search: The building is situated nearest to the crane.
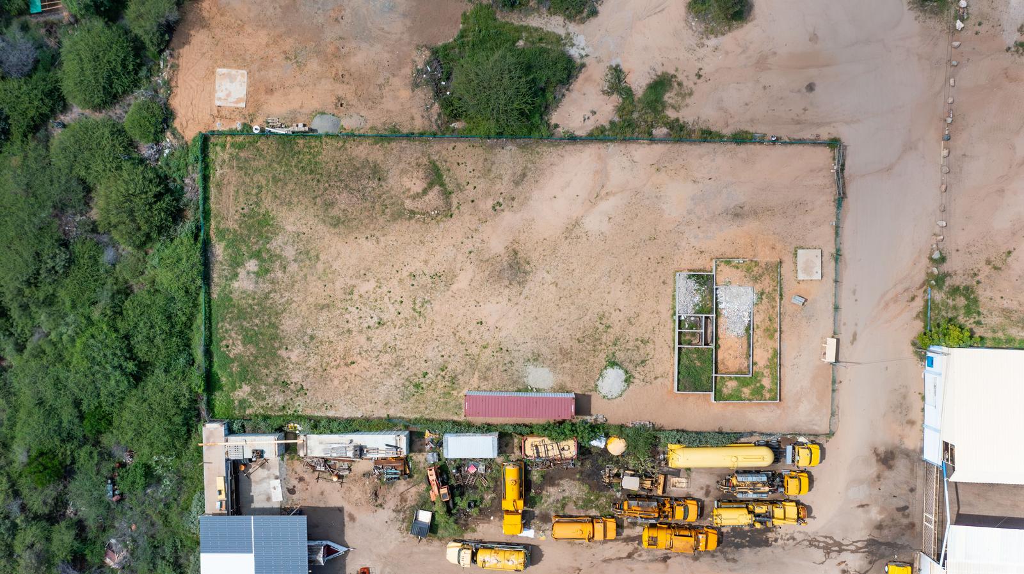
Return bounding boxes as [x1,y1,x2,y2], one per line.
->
[201,506,317,574]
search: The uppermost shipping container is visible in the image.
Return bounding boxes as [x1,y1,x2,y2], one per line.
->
[465,392,575,421]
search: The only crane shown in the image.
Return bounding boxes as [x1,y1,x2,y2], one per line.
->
[426,464,455,511]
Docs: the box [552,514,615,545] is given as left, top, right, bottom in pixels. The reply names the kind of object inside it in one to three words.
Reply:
truck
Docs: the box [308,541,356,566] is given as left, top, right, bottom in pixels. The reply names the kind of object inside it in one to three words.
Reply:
trailer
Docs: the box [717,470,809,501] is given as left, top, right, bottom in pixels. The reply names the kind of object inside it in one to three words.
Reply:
truck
